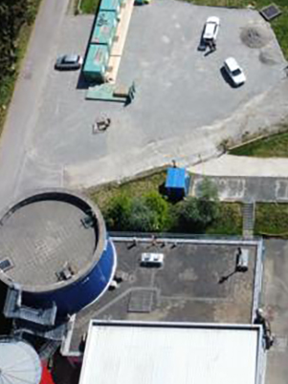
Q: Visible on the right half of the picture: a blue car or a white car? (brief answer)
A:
white car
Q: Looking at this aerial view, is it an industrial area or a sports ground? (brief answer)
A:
industrial area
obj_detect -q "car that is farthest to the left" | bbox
[53,54,83,71]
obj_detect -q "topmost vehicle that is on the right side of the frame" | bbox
[198,19,219,46]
